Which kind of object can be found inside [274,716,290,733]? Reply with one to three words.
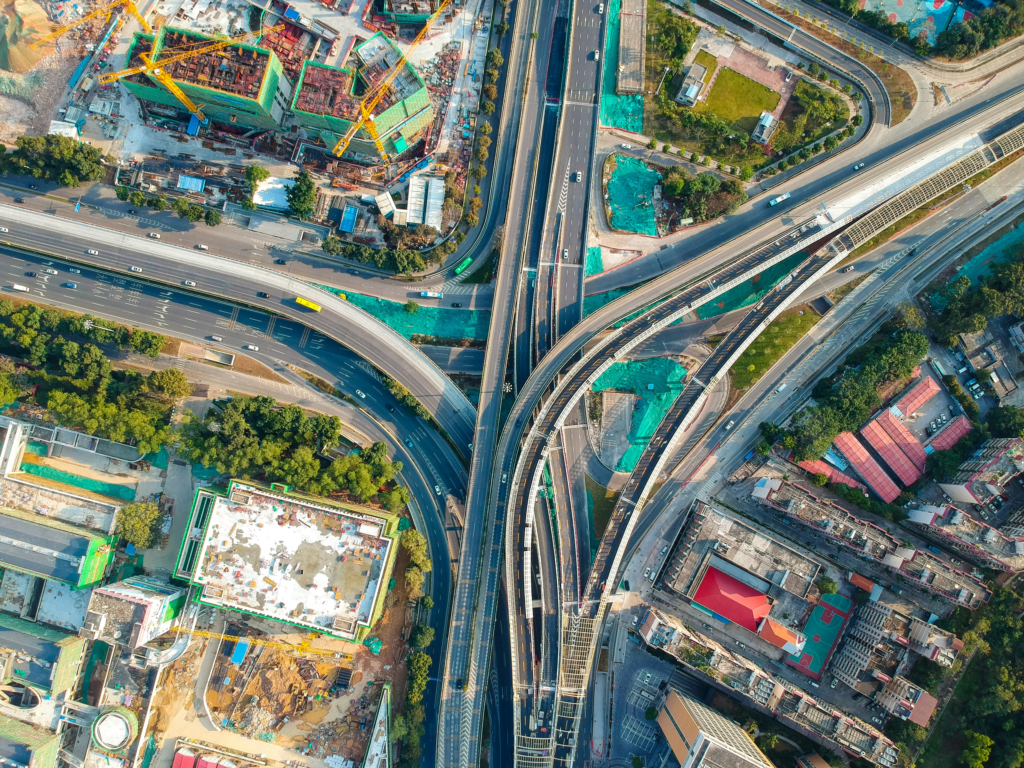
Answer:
vehicle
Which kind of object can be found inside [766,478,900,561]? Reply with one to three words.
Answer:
building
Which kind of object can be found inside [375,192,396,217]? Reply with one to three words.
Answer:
shed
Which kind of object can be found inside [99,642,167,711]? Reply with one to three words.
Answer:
house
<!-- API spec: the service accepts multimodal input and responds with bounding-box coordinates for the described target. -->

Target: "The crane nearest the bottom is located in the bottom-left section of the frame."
[165,627,351,662]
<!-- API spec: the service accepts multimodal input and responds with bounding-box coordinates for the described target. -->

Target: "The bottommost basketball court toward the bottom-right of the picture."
[786,594,857,680]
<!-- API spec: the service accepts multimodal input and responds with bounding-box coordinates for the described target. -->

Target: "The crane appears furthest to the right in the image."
[333,0,454,169]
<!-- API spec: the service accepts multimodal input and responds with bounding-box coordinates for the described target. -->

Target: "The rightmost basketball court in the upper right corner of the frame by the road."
[853,0,972,48]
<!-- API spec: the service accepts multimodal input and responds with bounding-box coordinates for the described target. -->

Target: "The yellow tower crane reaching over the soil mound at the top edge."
[30,0,160,50]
